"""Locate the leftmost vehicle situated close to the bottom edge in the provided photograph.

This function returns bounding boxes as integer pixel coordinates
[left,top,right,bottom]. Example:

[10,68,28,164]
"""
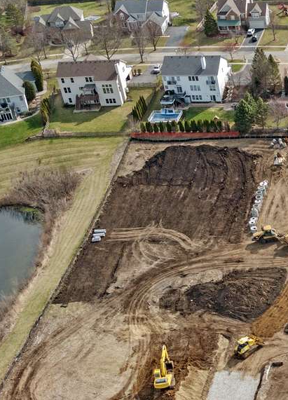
[148,339,175,399]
